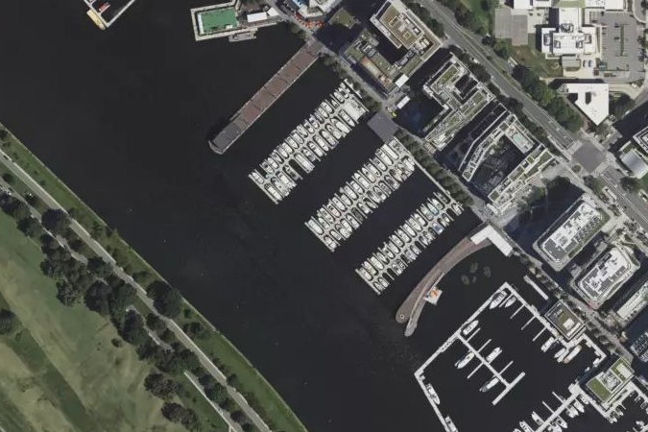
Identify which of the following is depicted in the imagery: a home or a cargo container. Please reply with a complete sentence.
This aerial view contains a home.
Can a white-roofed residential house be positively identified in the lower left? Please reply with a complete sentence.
No, I can find no white-roofed residential house in the lower left.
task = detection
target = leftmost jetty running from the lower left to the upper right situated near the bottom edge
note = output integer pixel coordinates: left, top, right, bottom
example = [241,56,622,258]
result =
[414,282,521,432]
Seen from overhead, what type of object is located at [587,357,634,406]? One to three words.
building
